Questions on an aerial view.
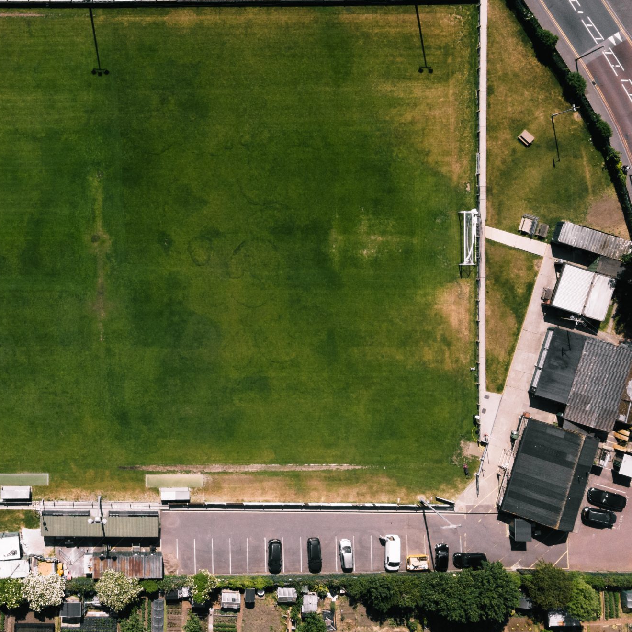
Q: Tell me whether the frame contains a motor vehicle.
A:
Yes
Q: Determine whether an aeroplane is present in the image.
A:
No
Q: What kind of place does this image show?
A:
sports ground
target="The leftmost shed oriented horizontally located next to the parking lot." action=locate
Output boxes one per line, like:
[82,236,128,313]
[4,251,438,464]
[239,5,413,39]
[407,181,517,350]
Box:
[92,546,163,578]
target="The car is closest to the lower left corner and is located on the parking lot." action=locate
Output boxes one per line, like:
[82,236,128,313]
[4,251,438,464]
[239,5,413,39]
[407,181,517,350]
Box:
[267,537,284,575]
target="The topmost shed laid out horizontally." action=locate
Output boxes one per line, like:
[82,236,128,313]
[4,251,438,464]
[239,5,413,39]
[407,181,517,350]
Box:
[553,221,632,261]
